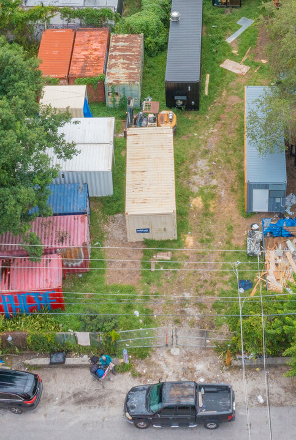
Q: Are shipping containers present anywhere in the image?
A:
Yes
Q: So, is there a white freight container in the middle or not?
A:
Yes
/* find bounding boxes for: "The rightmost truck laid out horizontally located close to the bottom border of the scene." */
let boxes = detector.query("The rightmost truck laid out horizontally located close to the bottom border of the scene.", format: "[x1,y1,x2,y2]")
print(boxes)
[124,379,236,427]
